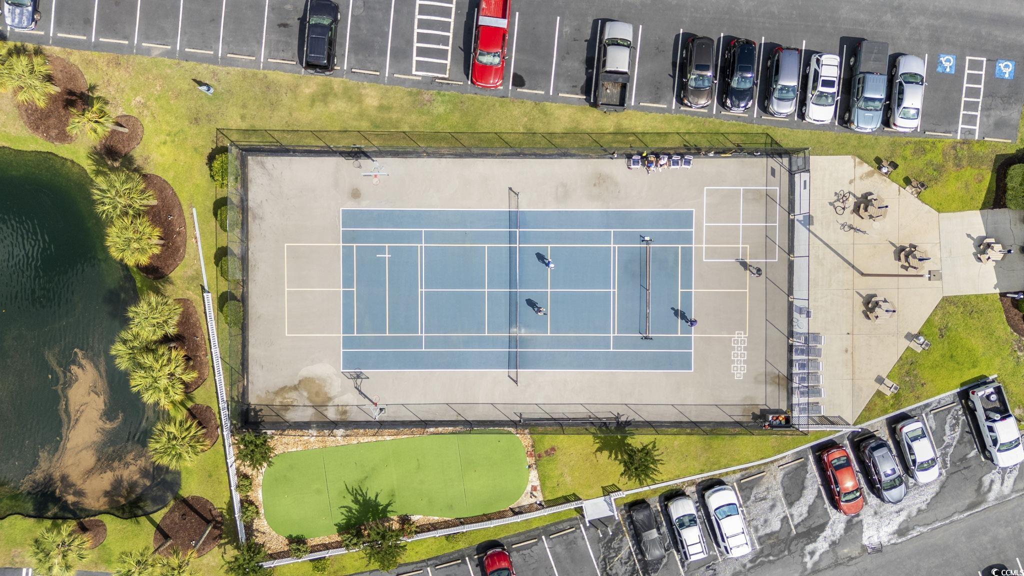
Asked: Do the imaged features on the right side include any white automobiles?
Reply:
Yes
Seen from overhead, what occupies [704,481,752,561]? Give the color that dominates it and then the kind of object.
white car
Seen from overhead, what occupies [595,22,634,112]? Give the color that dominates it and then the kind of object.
gray truck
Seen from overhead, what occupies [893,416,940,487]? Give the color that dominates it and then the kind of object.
white car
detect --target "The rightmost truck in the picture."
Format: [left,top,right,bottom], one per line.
[965,379,1023,469]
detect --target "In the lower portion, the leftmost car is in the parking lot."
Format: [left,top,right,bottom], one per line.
[488,546,522,576]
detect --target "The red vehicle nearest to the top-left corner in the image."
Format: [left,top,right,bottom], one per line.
[470,0,512,87]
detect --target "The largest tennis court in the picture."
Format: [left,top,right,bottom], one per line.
[248,156,789,421]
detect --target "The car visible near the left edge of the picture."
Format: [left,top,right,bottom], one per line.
[2,0,42,34]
